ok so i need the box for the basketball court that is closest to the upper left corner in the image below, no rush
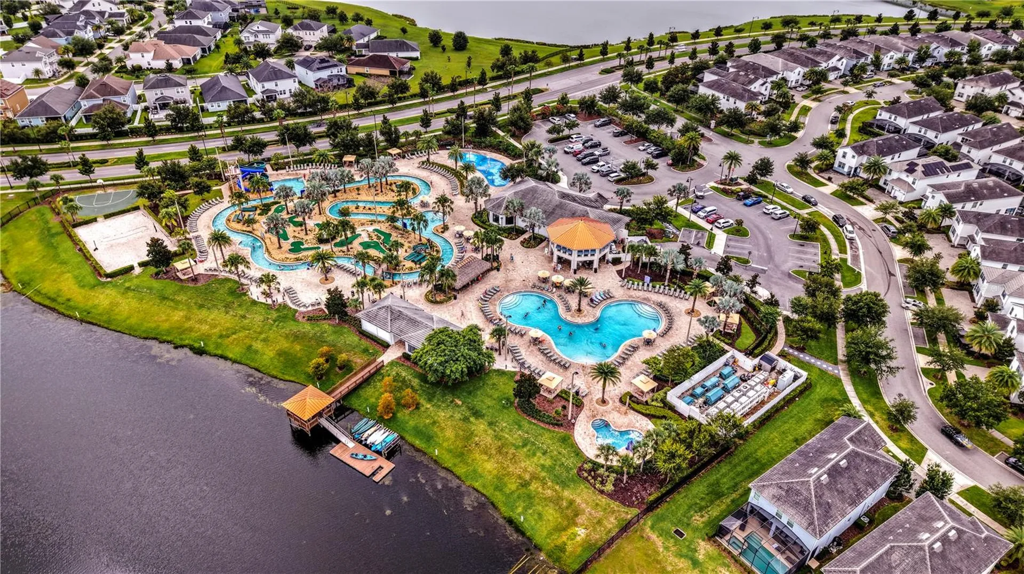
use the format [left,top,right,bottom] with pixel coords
[67,190,137,215]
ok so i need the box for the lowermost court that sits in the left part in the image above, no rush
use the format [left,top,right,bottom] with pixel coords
[73,209,177,268]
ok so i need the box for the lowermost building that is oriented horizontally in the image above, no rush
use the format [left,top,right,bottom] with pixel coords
[821,491,1011,574]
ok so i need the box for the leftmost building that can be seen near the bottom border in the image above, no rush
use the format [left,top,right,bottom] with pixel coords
[715,415,904,574]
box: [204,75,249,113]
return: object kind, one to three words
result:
house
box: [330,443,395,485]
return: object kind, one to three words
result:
pier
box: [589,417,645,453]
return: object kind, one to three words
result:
swimming pool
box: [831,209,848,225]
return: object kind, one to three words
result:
car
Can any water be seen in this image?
Yes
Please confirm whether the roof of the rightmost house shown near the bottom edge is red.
No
